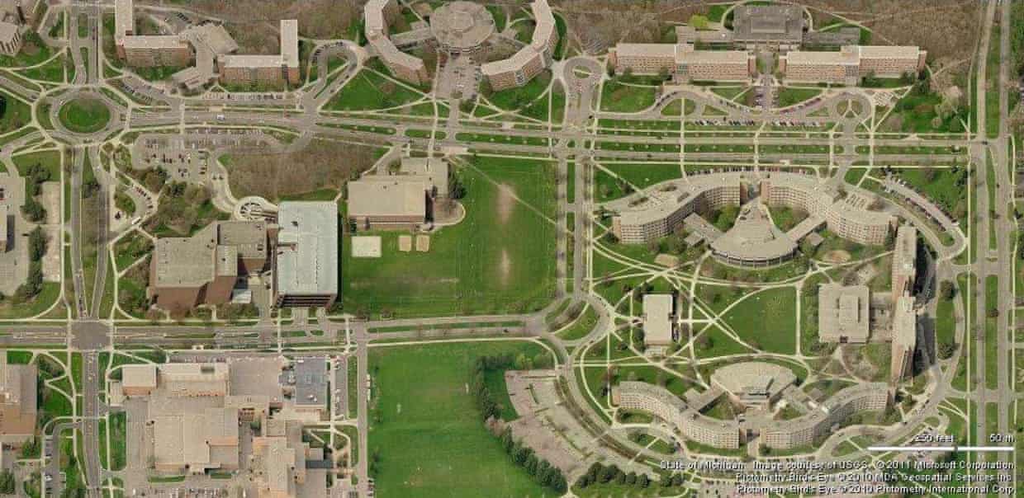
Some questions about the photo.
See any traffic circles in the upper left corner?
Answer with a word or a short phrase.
Yes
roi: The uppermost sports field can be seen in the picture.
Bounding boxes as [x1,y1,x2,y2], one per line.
[341,158,557,318]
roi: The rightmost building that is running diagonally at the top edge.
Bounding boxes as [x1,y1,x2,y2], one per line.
[481,0,556,90]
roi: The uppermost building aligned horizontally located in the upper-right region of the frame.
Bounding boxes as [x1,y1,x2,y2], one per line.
[675,5,860,53]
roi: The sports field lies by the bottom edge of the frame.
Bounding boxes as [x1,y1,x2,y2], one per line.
[368,340,565,498]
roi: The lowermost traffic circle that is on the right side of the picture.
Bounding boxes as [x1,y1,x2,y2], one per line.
[829,93,870,122]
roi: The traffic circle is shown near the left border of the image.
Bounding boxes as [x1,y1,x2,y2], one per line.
[49,91,119,140]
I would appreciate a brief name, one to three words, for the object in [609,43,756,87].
building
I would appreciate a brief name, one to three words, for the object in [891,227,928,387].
building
